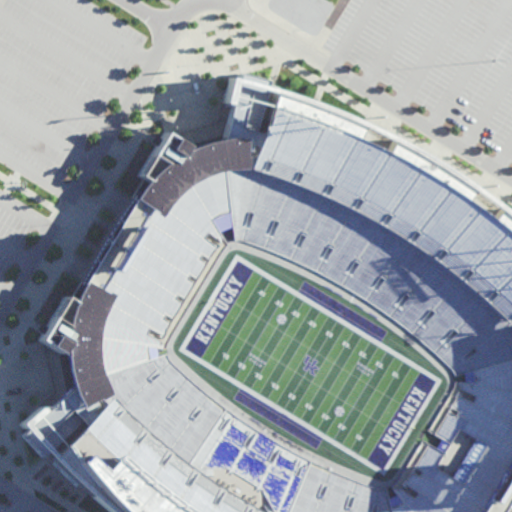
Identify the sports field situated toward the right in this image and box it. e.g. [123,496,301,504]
[172,250,448,478]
